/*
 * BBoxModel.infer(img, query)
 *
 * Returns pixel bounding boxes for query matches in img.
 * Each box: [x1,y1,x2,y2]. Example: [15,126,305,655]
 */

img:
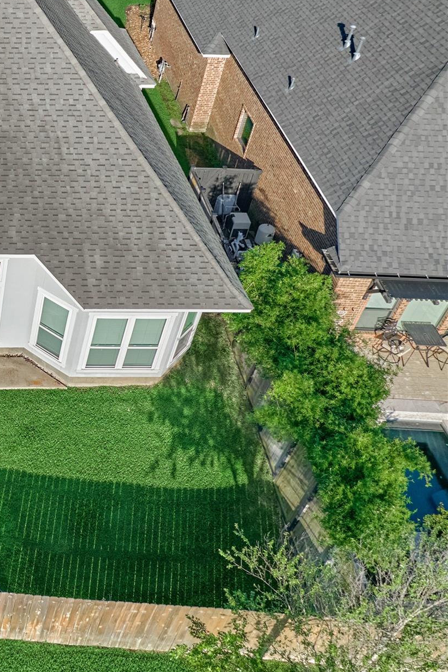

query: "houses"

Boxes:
[0,0,254,385]
[141,0,448,331]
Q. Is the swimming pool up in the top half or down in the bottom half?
bottom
